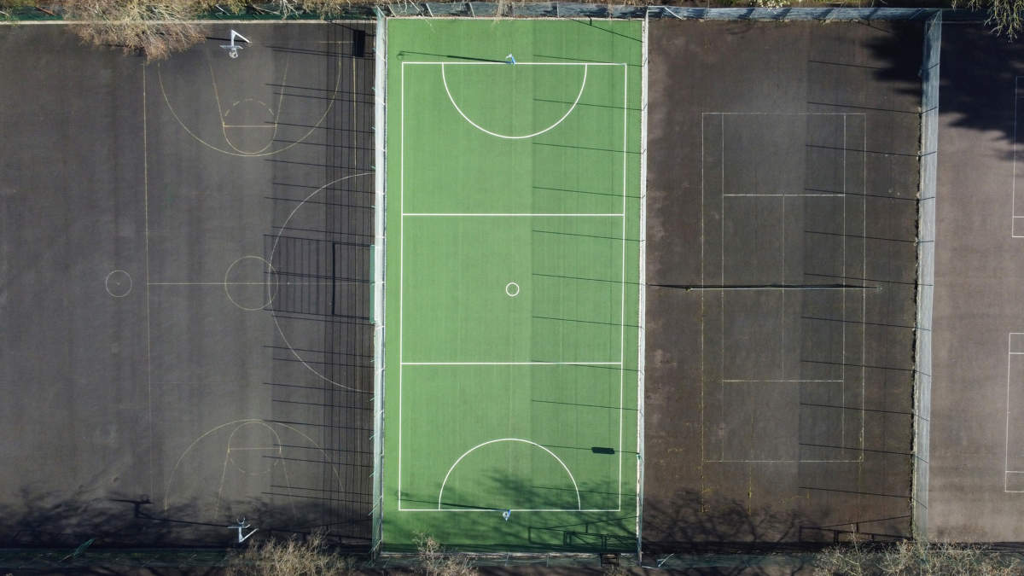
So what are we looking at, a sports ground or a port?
sports ground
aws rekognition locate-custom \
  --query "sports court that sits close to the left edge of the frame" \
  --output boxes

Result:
[0,19,386,554]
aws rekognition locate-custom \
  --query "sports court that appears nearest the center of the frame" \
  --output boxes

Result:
[385,20,642,555]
